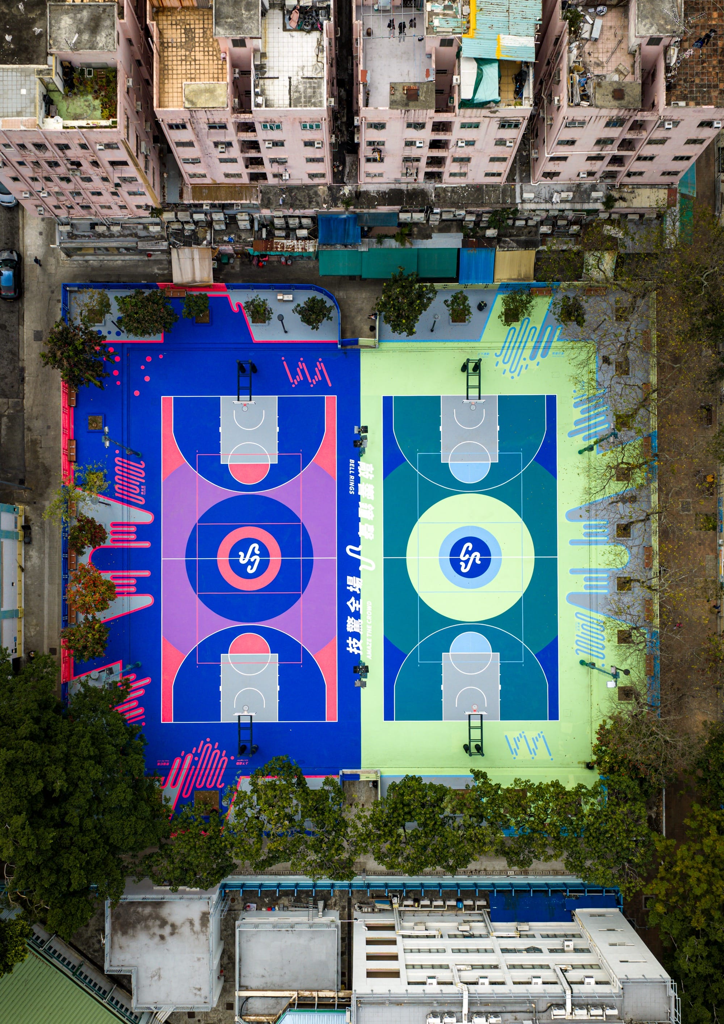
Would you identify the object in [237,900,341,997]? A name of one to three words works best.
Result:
building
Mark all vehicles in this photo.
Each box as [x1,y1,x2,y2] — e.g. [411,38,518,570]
[0,246,18,300]
[0,174,16,203]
